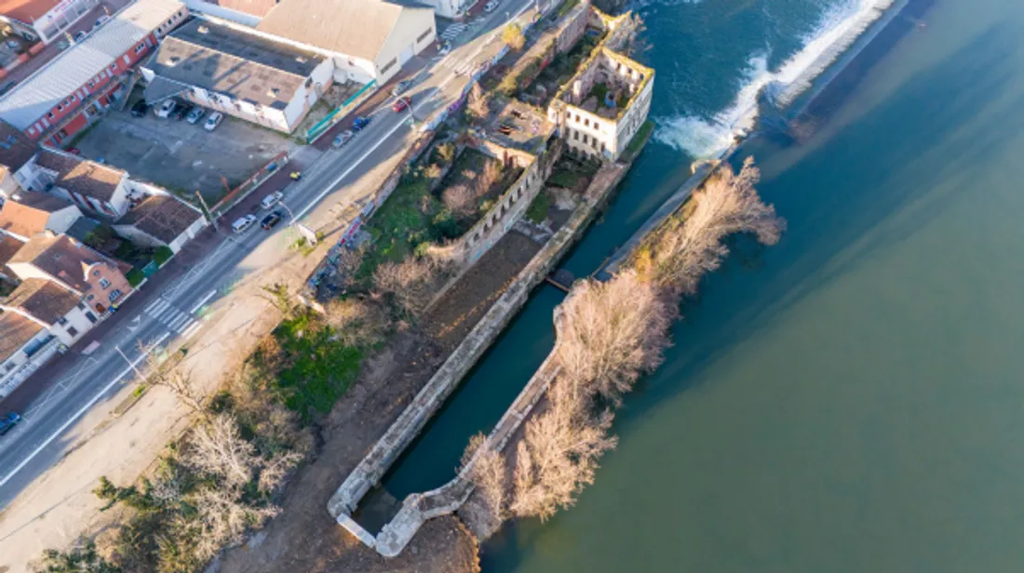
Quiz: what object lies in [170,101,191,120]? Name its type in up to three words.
car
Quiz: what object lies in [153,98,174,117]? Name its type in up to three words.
car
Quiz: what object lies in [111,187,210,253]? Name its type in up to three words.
house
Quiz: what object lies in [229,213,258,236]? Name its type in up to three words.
vehicle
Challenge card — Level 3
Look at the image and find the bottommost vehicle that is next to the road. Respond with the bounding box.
[0,410,22,437]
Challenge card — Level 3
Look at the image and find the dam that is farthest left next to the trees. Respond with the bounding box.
[593,159,723,288]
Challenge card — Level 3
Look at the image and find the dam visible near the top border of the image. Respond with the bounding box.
[715,0,908,151]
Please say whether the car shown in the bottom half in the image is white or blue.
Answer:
blue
